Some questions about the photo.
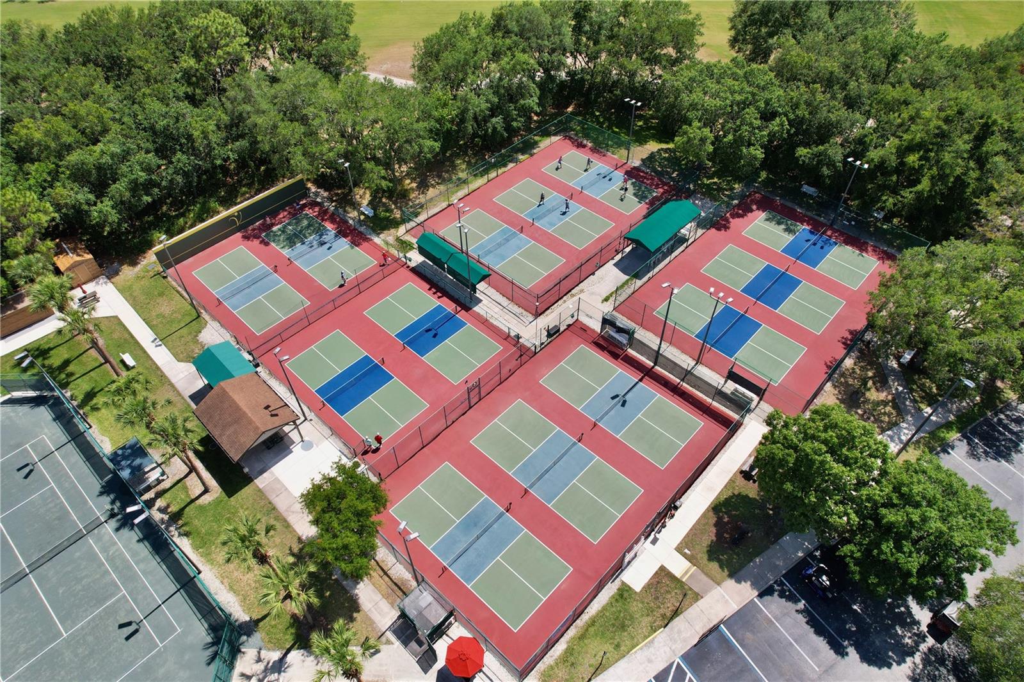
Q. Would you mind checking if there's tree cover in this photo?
Yes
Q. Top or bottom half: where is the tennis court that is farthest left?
bottom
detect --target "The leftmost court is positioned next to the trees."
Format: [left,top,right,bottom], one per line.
[0,391,248,682]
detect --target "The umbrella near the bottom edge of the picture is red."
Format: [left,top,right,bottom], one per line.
[444,637,487,682]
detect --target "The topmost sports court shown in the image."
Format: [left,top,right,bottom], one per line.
[543,151,658,213]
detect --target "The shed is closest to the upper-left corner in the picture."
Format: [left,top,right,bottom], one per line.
[48,242,102,286]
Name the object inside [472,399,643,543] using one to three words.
sports court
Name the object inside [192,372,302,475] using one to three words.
building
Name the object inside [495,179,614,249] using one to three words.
sports court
